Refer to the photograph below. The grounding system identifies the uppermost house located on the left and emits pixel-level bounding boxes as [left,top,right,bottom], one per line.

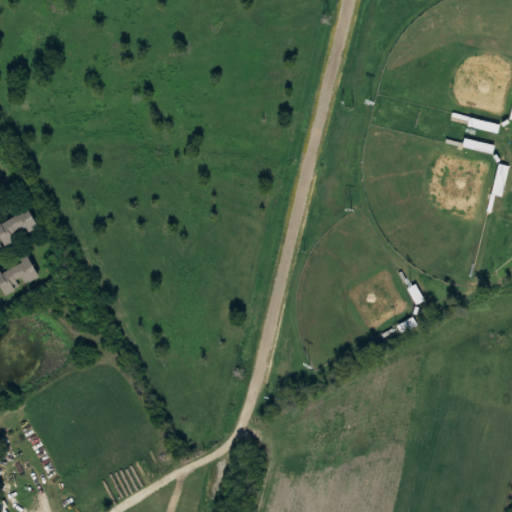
[0,210,35,246]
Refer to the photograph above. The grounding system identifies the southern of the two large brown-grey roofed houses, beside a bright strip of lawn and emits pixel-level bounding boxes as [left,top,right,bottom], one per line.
[0,256,40,296]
